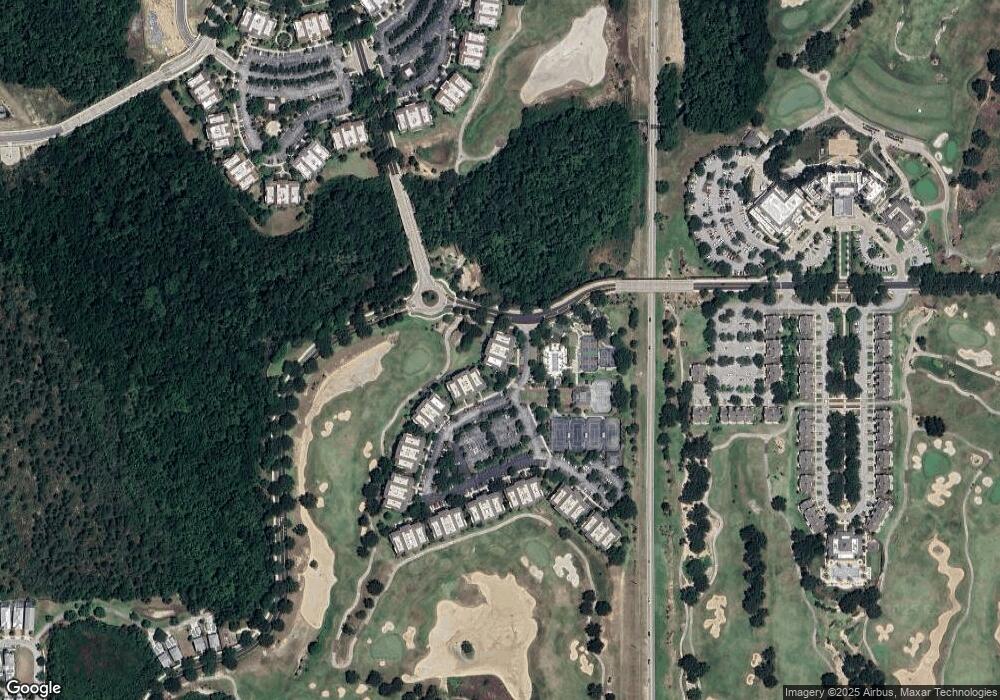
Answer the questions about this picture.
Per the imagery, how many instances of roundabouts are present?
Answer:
1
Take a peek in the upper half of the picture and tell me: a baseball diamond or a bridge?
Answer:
bridge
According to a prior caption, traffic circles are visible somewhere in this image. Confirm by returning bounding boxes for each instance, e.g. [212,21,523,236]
[404,272,457,322]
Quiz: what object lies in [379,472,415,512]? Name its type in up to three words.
building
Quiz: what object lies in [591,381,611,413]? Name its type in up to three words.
sports court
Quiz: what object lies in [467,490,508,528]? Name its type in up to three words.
building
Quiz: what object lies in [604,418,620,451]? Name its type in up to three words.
tennis court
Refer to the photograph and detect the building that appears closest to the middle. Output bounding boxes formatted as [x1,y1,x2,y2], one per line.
[479,329,517,370]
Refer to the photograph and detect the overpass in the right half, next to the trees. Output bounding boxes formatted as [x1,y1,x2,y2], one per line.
[558,279,787,315]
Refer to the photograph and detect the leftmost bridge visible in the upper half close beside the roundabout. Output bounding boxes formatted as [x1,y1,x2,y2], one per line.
[387,162,430,277]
